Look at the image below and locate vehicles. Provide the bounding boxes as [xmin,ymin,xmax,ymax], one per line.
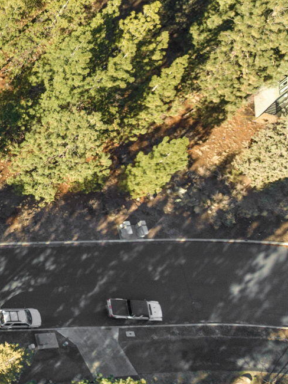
[107,300,168,324]
[0,307,46,331]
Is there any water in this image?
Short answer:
No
